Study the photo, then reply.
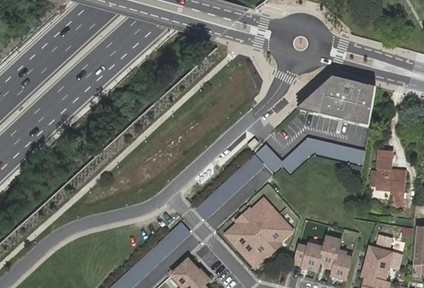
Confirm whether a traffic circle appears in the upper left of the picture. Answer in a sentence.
No, I see no traffic circle in the upper left of the picture.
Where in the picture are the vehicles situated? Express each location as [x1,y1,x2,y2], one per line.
[140,229,147,240]
[226,280,237,288]
[214,264,226,274]
[94,66,104,76]
[60,26,70,36]
[148,224,154,234]
[320,58,331,64]
[280,130,288,140]
[210,260,222,270]
[29,126,40,136]
[20,77,30,86]
[162,210,172,222]
[156,217,165,227]
[292,266,298,278]
[341,123,347,134]
[222,276,233,285]
[262,111,272,120]
[219,148,229,158]
[129,236,136,246]
[76,70,87,80]
[219,270,229,279]
[18,67,28,78]
[306,114,312,126]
